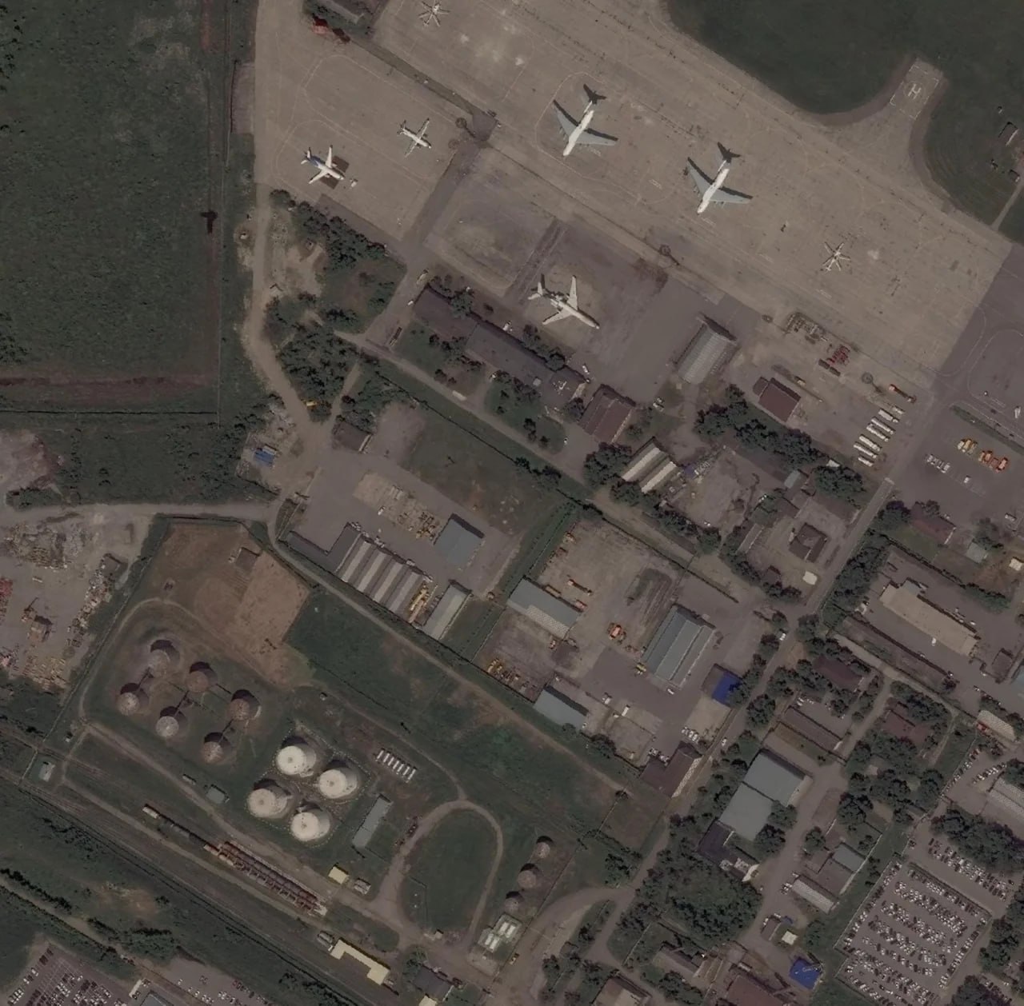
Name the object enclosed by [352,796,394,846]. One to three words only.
building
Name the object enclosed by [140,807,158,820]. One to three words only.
rail car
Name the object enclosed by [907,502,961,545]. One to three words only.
house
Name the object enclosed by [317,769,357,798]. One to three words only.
storage tank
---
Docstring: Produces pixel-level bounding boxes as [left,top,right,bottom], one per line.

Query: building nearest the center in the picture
[432,518,489,567]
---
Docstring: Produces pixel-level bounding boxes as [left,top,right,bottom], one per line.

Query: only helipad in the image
[890,61,941,120]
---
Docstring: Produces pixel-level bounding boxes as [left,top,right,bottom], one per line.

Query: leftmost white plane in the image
[298,144,342,180]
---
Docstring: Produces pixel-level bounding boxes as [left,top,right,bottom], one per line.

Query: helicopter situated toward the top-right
[821,242,850,273]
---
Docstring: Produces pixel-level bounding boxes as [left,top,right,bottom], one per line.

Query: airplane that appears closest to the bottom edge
[526,276,600,327]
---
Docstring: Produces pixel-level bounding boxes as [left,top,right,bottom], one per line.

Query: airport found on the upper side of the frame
[231,0,1024,520]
